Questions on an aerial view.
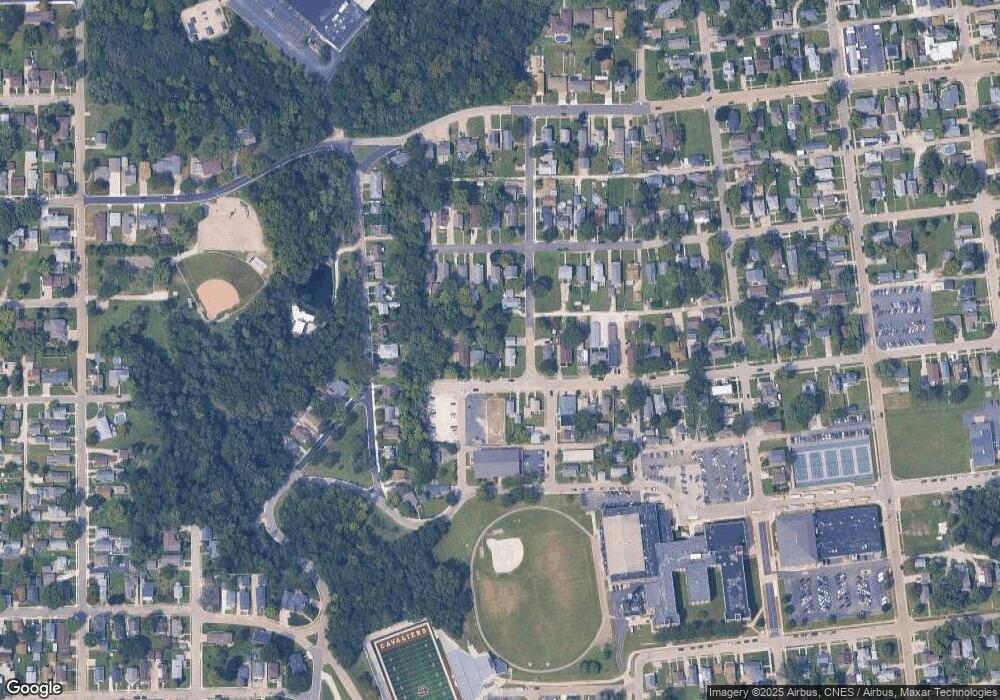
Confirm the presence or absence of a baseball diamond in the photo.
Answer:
Yes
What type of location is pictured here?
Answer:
residential area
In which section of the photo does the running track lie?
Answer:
bottom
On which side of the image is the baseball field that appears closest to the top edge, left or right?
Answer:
left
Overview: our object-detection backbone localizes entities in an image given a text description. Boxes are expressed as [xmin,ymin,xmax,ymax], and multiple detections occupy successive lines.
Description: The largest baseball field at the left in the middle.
[177,252,265,320]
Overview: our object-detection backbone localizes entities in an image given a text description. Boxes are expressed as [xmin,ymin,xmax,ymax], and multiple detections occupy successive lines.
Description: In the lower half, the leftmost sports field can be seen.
[370,619,460,700]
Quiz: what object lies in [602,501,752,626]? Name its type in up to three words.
building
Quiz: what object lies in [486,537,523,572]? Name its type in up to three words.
baseball field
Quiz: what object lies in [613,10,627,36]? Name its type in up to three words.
house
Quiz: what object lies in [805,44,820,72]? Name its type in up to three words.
house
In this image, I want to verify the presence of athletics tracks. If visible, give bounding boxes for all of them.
[471,506,604,672]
